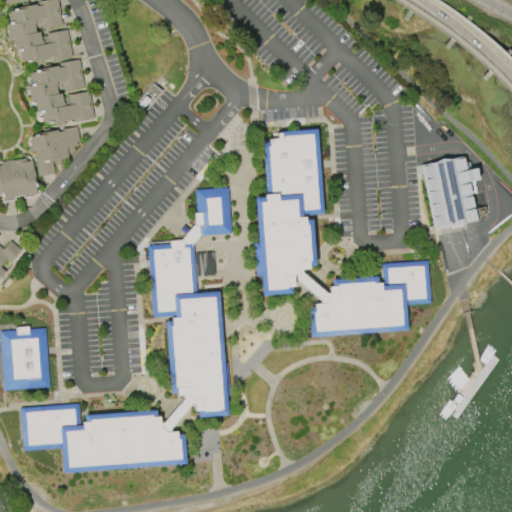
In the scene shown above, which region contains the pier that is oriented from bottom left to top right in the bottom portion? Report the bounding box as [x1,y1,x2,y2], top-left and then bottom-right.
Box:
[450,354,500,419]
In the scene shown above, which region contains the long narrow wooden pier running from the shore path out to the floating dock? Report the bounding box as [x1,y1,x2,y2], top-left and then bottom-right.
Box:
[460,292,482,368]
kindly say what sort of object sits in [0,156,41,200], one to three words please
house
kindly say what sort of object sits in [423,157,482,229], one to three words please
building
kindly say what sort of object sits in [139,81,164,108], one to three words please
shed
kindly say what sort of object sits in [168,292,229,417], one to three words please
building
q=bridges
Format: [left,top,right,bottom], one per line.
[395,0,512,92]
